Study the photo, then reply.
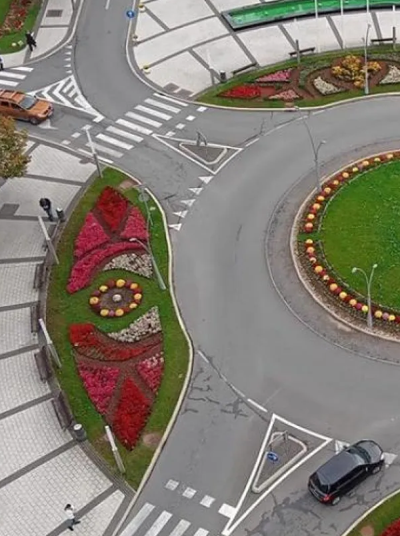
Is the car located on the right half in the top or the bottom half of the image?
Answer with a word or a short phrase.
bottom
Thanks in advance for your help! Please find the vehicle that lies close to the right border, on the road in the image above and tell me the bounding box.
[306,437,386,504]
